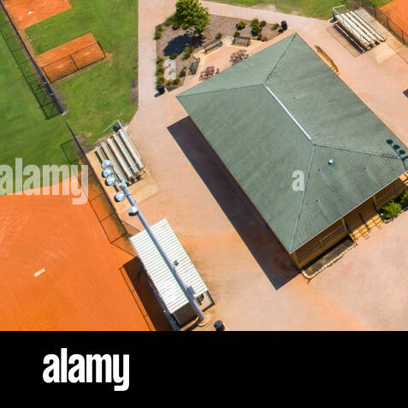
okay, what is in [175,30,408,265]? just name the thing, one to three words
building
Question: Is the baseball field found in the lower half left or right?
left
